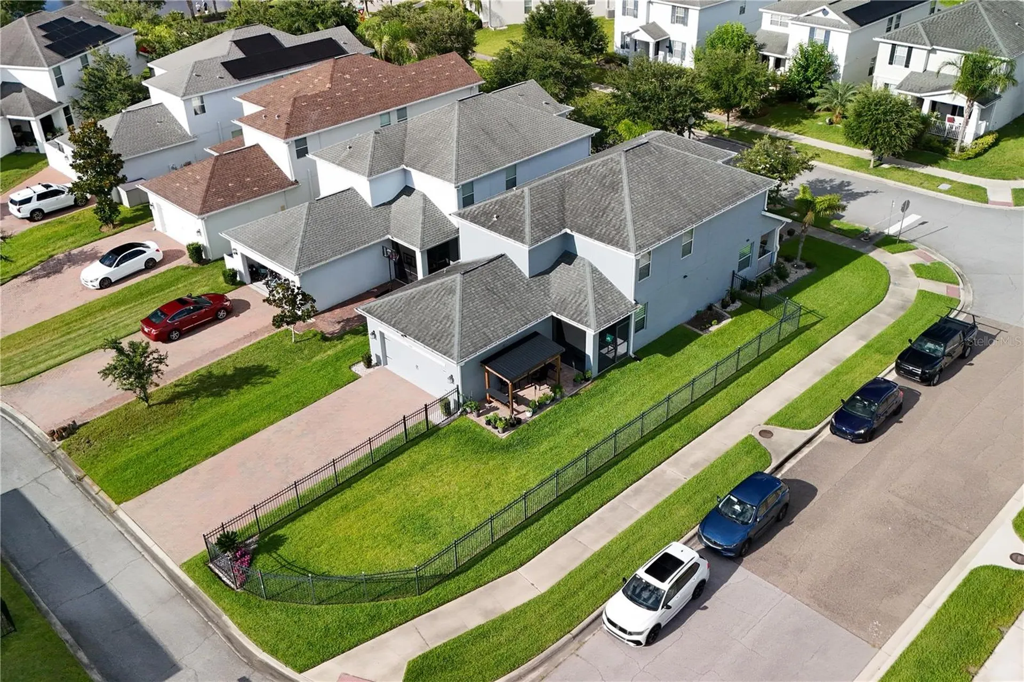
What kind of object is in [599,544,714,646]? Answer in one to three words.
car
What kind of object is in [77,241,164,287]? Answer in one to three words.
car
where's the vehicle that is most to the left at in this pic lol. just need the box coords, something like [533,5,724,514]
[10,179,83,218]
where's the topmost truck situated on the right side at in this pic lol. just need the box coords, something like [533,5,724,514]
[895,305,989,388]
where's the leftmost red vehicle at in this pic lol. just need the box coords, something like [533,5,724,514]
[138,290,235,339]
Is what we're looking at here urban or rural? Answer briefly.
urban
